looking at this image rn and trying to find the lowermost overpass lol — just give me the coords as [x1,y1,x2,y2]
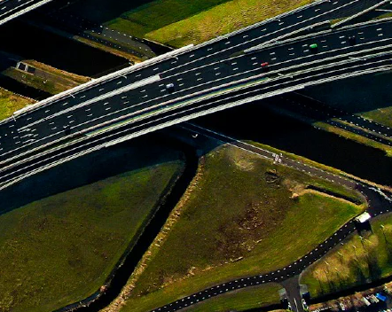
[8,42,313,174]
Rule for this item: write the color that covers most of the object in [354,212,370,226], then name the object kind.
white vehicle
